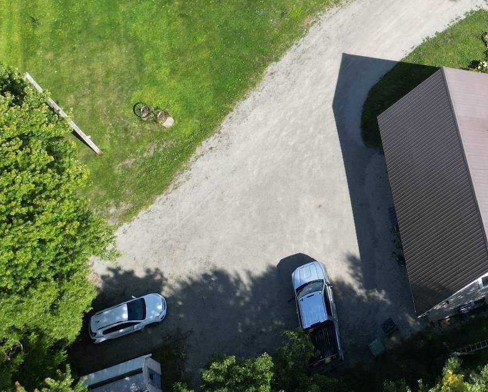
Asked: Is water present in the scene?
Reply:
No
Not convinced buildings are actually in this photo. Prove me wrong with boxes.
[61,345,165,392]
[379,67,488,323]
